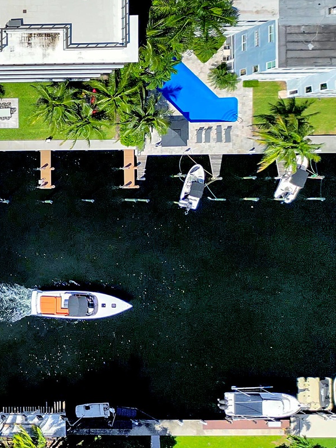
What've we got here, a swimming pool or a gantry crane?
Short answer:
swimming pool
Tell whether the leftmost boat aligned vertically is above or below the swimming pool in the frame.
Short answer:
below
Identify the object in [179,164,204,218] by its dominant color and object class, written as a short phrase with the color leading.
white boat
